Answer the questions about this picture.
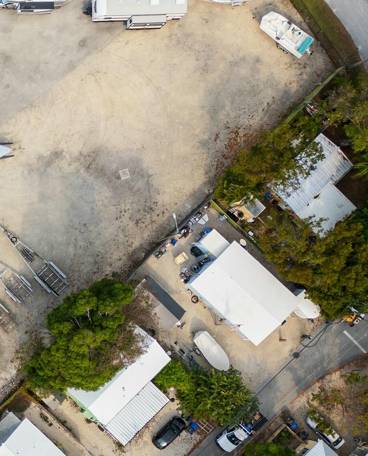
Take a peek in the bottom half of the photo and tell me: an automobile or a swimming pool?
automobile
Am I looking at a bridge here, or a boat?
boat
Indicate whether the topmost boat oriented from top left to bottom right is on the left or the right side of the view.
right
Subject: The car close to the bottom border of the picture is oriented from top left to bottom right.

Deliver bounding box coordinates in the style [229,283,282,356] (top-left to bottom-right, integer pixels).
[303,414,346,449]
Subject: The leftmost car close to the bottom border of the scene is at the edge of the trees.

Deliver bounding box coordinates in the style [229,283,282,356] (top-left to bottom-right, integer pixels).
[150,415,189,449]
